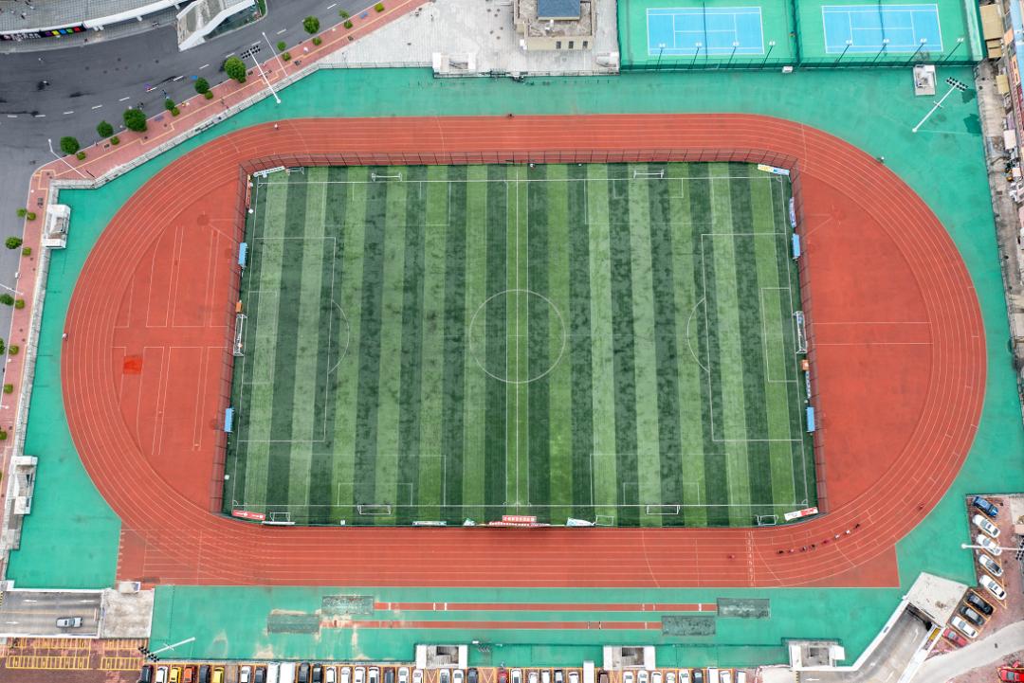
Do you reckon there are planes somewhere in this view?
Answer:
No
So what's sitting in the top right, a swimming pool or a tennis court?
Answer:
tennis court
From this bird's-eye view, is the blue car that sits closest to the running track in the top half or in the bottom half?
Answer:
bottom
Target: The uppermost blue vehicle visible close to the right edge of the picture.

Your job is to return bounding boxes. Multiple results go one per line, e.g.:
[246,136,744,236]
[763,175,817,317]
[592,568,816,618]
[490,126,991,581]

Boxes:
[971,494,999,518]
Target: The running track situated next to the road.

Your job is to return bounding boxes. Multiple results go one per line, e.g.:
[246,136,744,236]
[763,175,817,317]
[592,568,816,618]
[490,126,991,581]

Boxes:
[64,112,985,589]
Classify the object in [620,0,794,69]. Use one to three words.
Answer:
tennis court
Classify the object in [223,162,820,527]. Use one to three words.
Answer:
soccer field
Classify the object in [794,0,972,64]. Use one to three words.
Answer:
tennis court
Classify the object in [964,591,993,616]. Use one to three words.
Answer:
car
